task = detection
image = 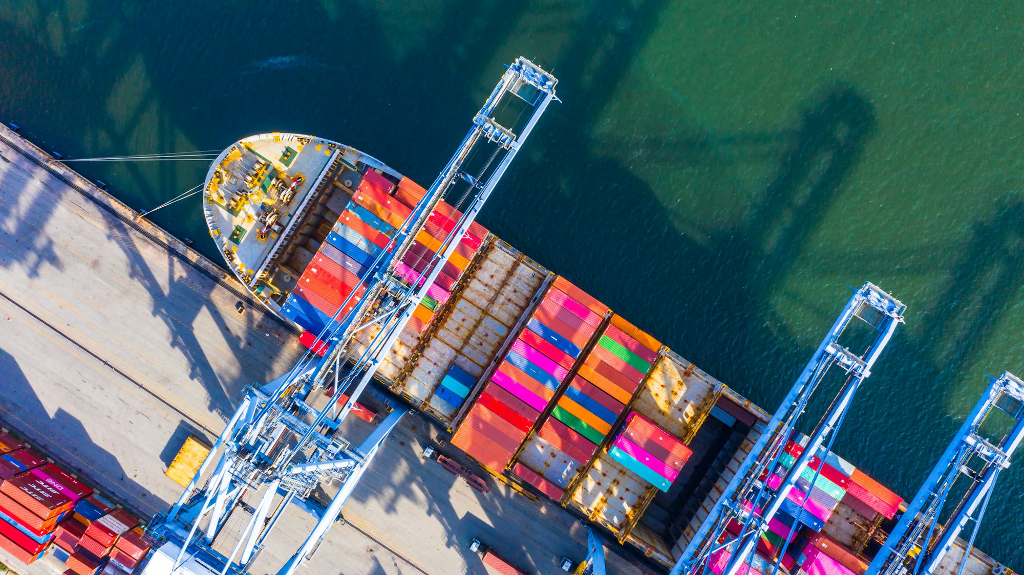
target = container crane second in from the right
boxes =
[564,278,916,575]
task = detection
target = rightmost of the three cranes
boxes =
[866,370,1024,575]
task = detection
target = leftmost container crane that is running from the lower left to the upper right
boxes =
[121,46,565,575]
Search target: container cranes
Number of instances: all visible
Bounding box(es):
[866,370,1024,575]
[564,278,916,575]
[121,46,565,575]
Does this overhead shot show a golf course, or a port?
port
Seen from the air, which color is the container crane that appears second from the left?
blue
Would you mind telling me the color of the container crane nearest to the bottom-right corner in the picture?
blue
